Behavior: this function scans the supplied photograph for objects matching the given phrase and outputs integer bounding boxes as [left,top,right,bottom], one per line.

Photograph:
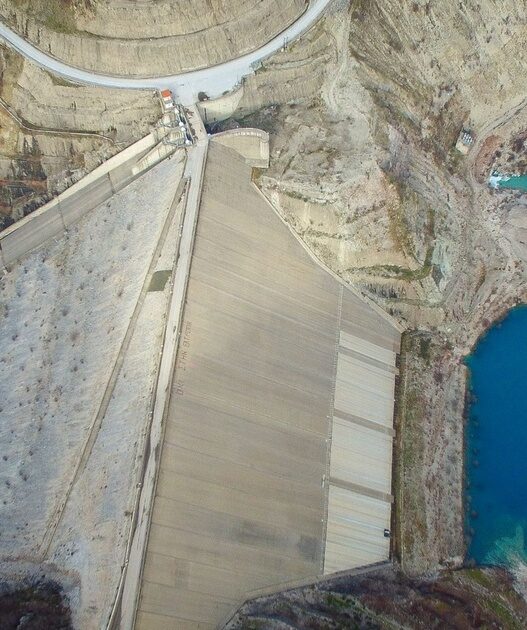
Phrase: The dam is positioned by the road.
[0,138,406,630]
